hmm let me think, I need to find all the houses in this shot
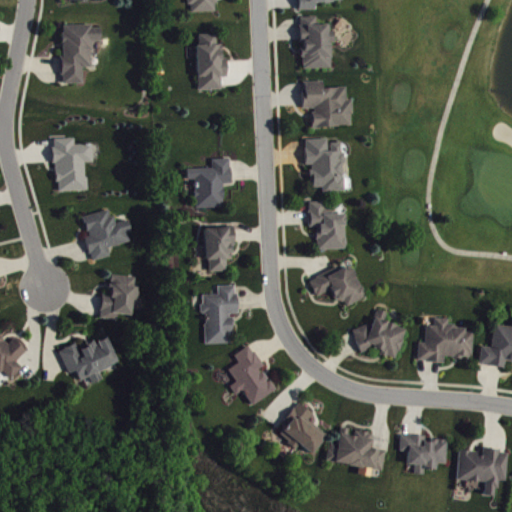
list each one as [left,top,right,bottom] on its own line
[303,80,354,128]
[300,15,336,68]
[204,228,236,272]
[309,264,366,308]
[202,285,238,344]
[0,334,28,382]
[459,448,509,497]
[197,33,228,90]
[280,401,328,457]
[58,334,118,386]
[336,427,386,470]
[100,275,140,318]
[309,202,347,250]
[188,0,218,12]
[52,138,94,192]
[61,24,102,82]
[350,310,410,358]
[229,346,276,408]
[306,138,346,191]
[418,318,474,363]
[82,210,132,258]
[299,0,340,9]
[188,158,232,208]
[400,436,448,476]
